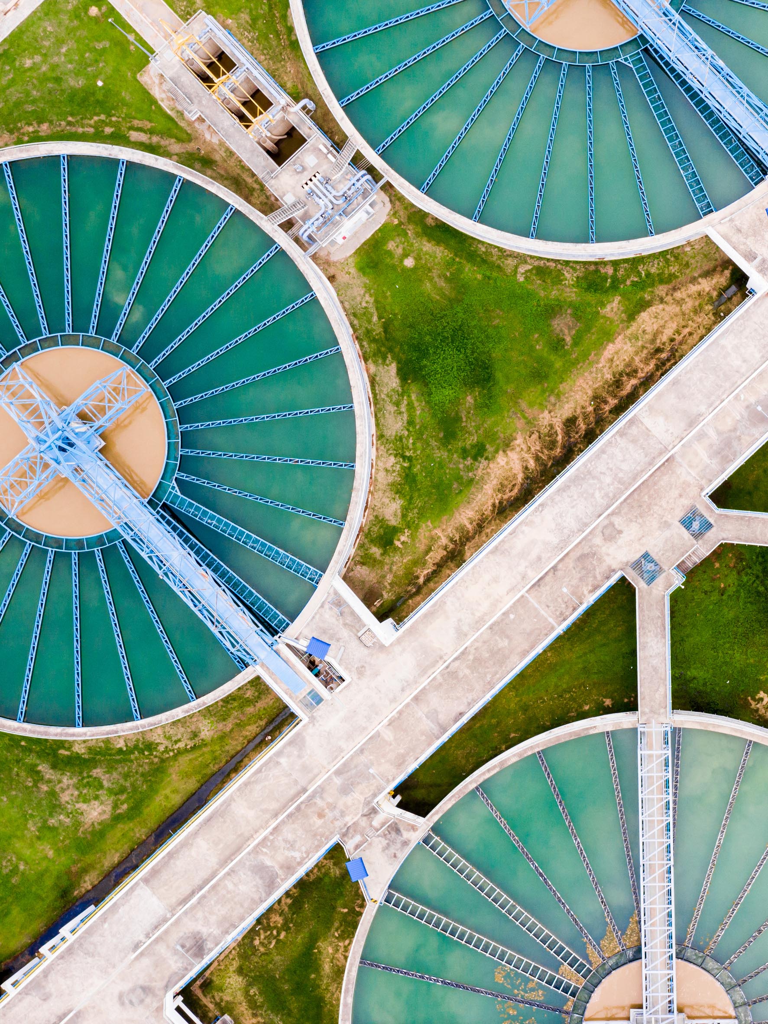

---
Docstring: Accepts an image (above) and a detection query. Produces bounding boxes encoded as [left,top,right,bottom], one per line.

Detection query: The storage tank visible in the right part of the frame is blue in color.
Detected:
[296,0,768,260]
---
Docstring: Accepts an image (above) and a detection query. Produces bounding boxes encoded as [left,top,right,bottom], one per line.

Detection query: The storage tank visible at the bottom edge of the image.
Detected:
[343,718,768,1024]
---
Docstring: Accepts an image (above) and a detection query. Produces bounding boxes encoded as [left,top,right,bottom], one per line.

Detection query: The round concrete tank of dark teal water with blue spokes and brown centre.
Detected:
[0,143,364,738]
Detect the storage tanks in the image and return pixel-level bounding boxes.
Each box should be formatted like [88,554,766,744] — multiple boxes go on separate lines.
[296,0,768,260]
[0,143,364,738]
[343,718,768,1024]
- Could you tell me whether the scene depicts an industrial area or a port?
industrial area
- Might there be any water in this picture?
Yes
